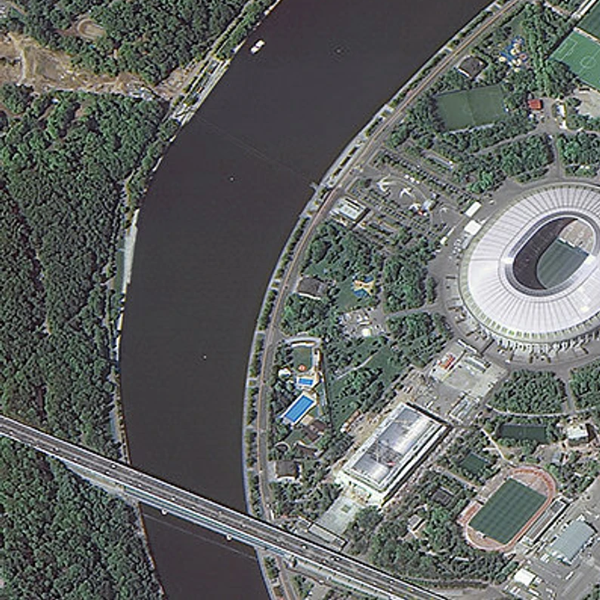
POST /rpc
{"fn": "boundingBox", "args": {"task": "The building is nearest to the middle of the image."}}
[296,278,326,299]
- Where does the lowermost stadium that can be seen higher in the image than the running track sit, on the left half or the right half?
right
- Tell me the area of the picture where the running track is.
bottom right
